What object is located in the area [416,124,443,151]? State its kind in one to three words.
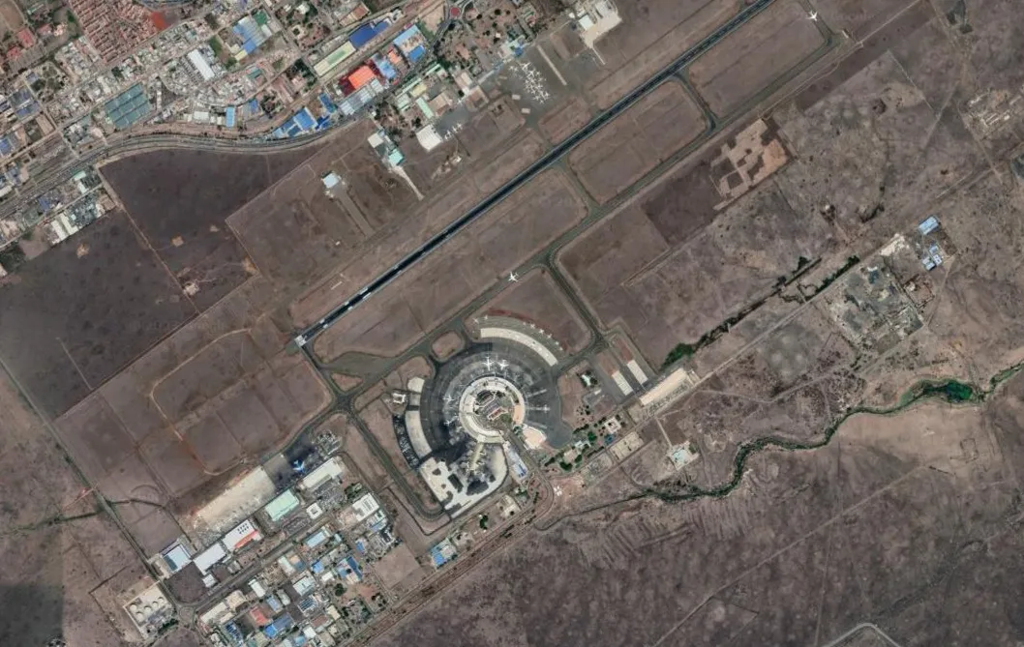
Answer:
hangar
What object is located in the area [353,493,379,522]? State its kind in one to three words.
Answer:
building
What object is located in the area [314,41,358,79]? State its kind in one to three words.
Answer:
building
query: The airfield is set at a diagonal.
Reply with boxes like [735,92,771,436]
[189,0,852,537]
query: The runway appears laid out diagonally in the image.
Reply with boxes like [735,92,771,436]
[297,0,772,344]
